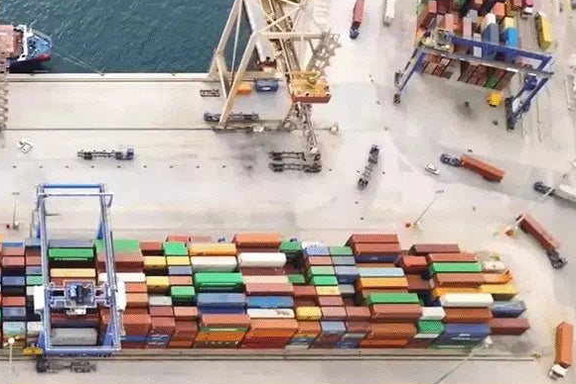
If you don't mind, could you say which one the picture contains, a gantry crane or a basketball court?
gantry crane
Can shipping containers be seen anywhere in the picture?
Yes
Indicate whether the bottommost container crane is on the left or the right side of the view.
left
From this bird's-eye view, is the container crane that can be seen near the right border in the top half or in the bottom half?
top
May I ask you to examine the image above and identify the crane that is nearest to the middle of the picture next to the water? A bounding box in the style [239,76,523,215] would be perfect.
[197,0,346,165]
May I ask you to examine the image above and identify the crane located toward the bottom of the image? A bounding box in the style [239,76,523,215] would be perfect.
[30,185,130,357]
